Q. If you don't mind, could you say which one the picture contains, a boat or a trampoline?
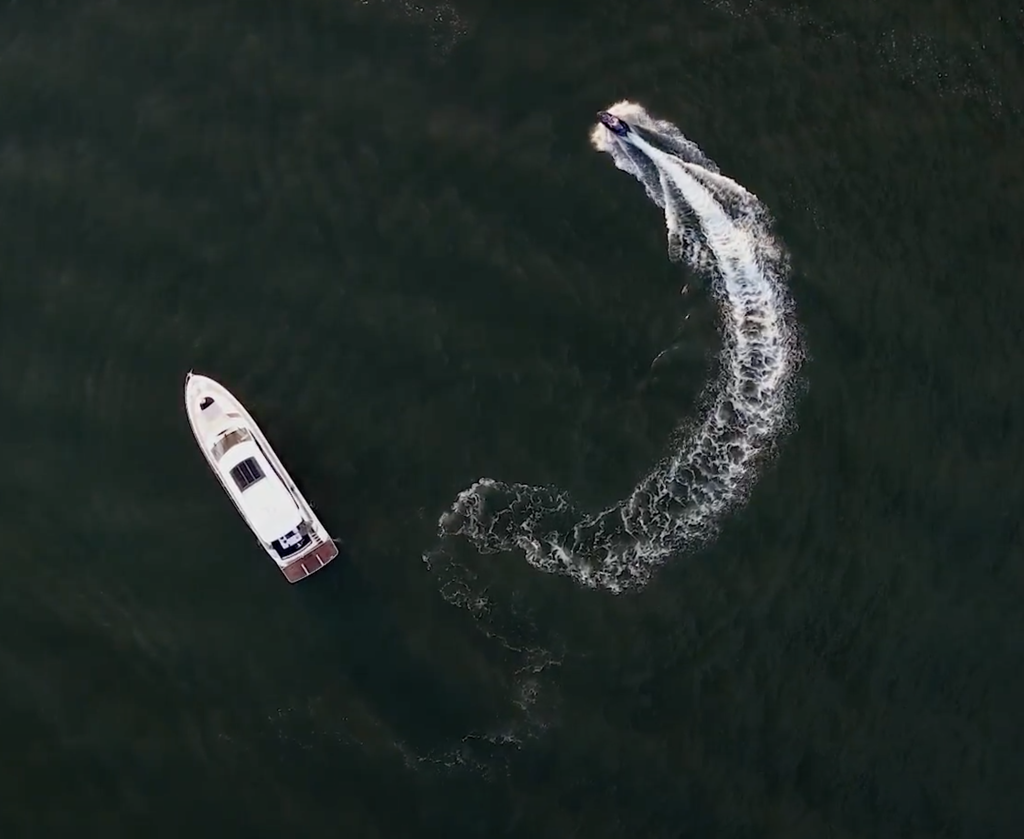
boat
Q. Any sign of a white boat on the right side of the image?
No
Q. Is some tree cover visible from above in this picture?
No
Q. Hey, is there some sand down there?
No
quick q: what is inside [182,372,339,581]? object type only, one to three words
boat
